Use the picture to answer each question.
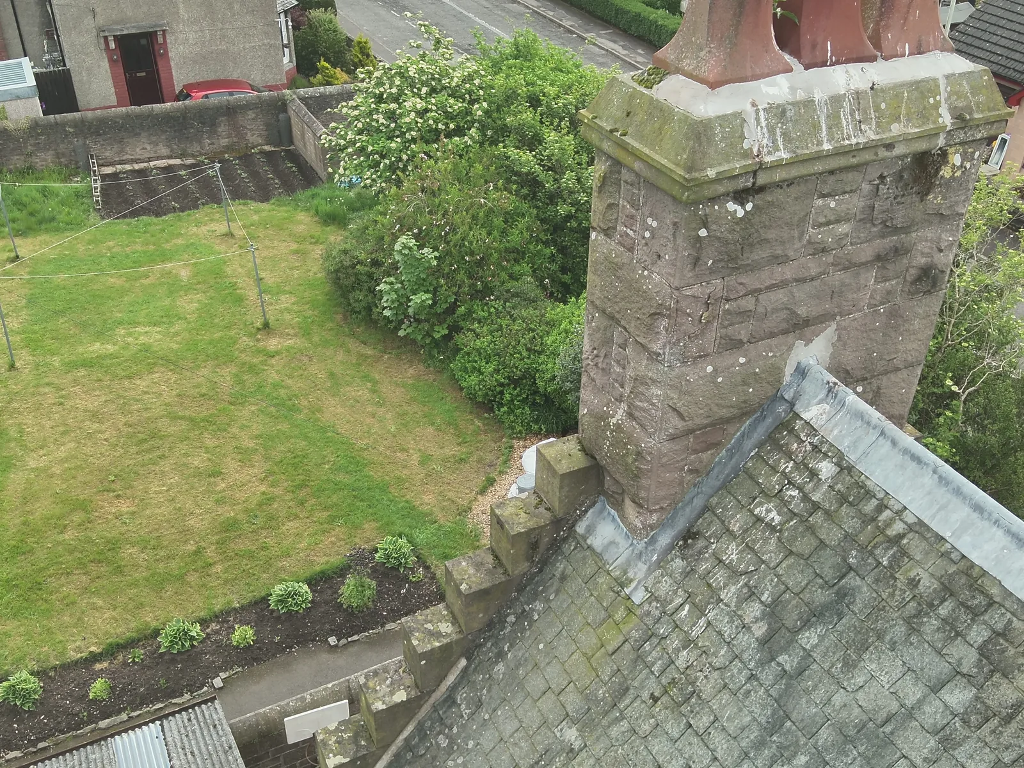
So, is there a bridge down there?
No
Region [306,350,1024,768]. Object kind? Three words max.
house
